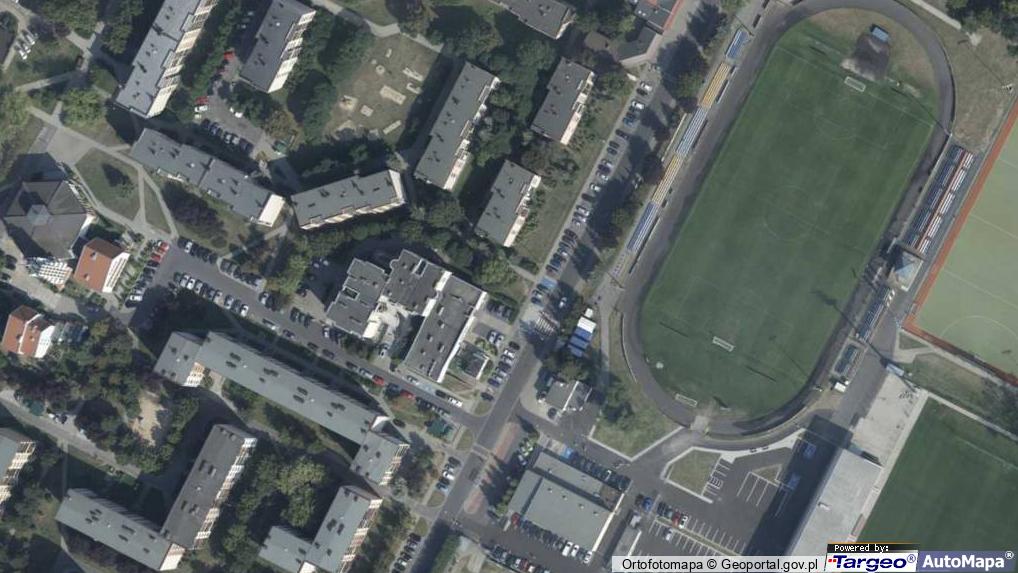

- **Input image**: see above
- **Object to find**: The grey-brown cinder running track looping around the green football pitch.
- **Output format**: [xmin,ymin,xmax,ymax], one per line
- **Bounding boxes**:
[621,0,955,435]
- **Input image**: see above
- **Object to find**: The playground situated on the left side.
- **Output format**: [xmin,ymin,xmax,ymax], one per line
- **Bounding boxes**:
[130,392,166,441]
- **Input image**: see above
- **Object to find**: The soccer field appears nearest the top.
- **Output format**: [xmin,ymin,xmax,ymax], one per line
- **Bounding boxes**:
[641,8,939,424]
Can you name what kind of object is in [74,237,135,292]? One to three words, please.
house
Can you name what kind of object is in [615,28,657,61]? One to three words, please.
shed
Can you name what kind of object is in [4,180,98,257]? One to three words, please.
building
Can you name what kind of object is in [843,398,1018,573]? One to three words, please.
soccer field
